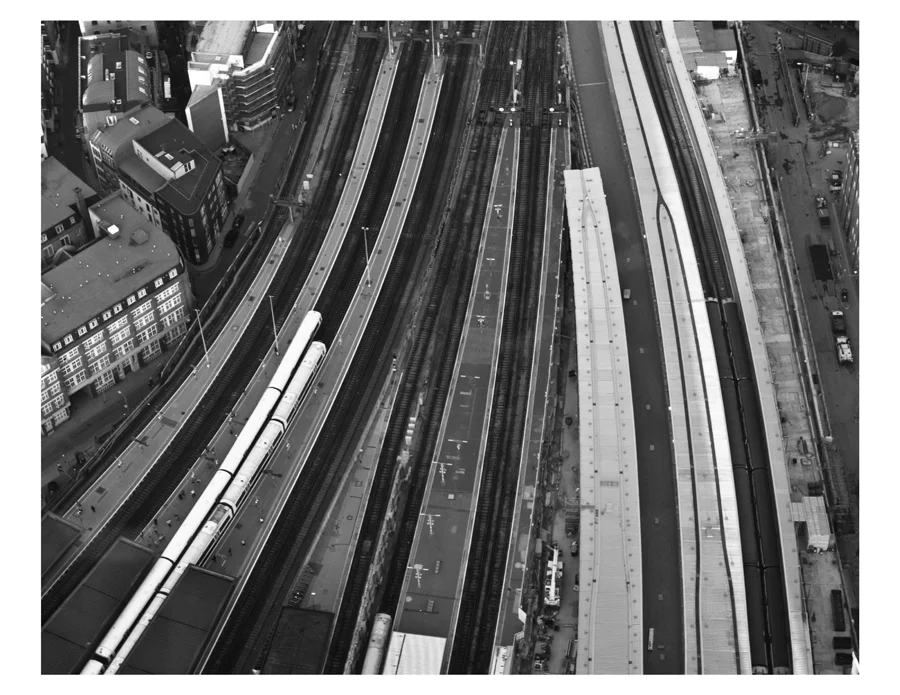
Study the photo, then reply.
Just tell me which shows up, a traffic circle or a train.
train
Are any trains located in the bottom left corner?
Yes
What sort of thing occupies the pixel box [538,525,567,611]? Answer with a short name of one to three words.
crane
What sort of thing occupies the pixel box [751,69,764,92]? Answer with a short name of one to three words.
vehicle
